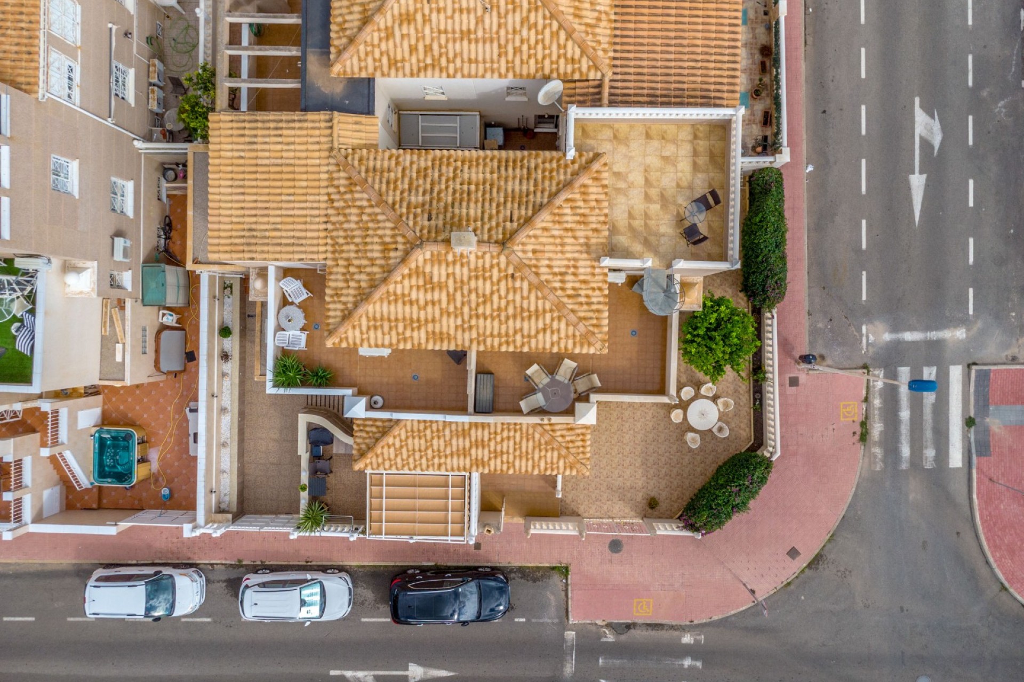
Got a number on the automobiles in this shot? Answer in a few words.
three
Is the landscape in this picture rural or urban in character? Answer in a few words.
urban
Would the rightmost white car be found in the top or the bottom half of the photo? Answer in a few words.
bottom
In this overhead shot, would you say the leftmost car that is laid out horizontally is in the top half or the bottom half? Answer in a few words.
bottom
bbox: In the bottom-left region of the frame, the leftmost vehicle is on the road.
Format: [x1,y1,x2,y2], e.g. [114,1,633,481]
[77,567,208,628]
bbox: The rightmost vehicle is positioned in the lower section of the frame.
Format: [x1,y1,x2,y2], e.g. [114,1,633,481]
[391,567,510,631]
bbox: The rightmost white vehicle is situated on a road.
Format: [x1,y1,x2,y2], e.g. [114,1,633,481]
[236,567,355,628]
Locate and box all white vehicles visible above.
[236,567,355,628]
[77,567,208,628]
